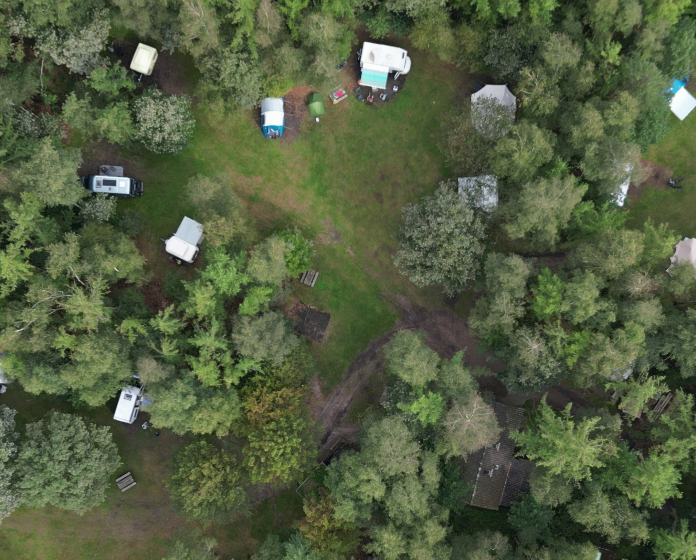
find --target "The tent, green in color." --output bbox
[307,94,326,117]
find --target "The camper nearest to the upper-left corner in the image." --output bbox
[131,42,159,86]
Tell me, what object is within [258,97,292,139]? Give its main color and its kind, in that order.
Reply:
white tent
